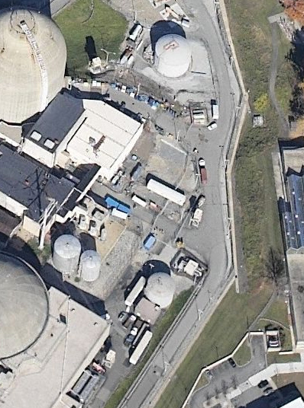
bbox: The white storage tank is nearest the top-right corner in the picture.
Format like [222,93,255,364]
[154,35,193,79]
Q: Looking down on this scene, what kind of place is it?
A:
industrial area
